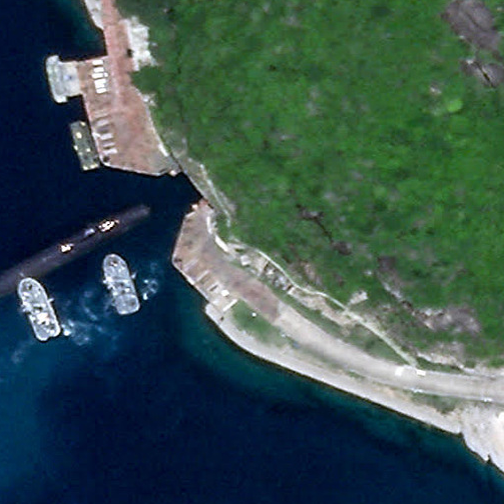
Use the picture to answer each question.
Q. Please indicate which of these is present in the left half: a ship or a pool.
ship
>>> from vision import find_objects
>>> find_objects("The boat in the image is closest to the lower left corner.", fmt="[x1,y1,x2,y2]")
[22,278,61,342]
